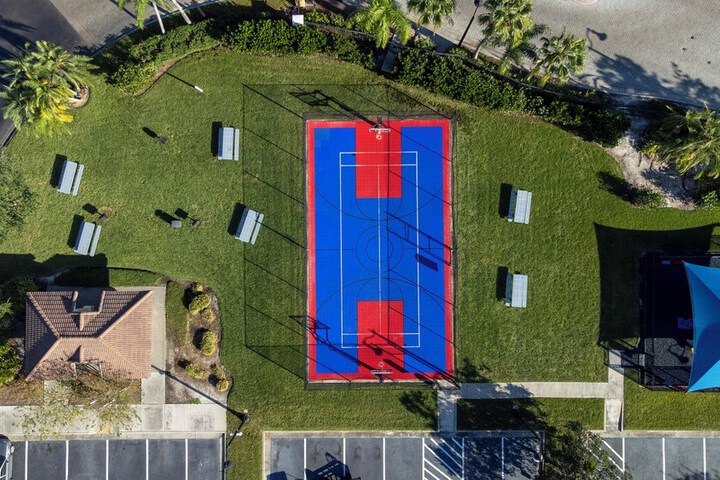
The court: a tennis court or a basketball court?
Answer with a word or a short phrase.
basketball court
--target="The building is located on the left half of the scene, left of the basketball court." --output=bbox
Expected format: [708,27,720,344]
[20,290,153,383]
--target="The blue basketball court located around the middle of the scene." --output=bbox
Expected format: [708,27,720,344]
[306,117,454,383]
